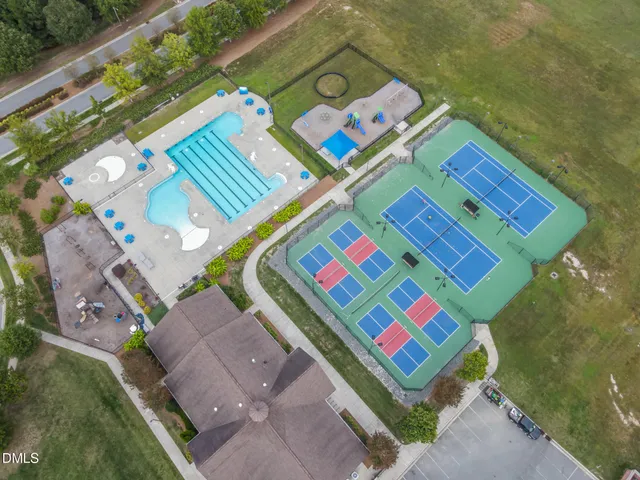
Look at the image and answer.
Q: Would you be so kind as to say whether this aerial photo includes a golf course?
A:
No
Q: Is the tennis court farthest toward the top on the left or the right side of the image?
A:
right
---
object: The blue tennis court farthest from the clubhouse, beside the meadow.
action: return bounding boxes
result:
[439,140,558,238]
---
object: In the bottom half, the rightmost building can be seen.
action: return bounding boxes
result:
[145,285,368,480]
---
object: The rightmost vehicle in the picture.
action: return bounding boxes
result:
[504,410,542,444]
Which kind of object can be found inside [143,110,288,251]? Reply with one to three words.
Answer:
swimming pool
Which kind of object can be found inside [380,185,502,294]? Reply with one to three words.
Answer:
tennis court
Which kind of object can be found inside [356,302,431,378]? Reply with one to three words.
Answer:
sports court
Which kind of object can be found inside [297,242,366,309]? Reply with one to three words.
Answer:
sports court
